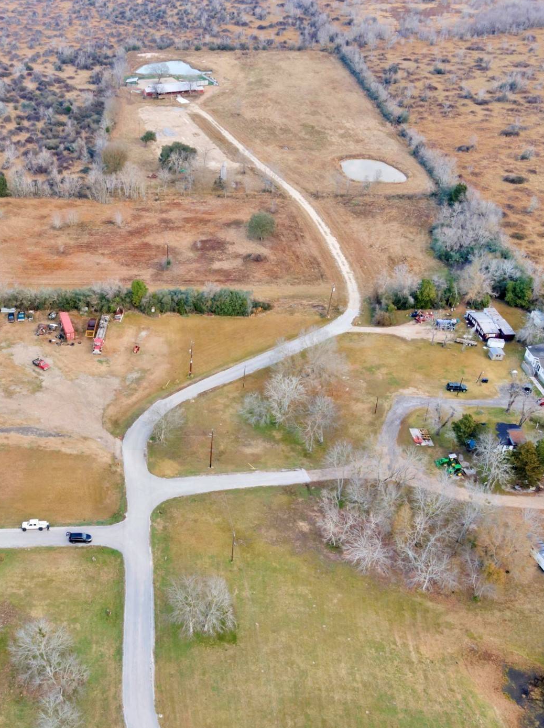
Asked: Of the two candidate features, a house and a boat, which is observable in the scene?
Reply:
house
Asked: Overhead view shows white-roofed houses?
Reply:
Yes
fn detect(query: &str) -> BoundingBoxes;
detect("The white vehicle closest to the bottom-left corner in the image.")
[21,520,49,532]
